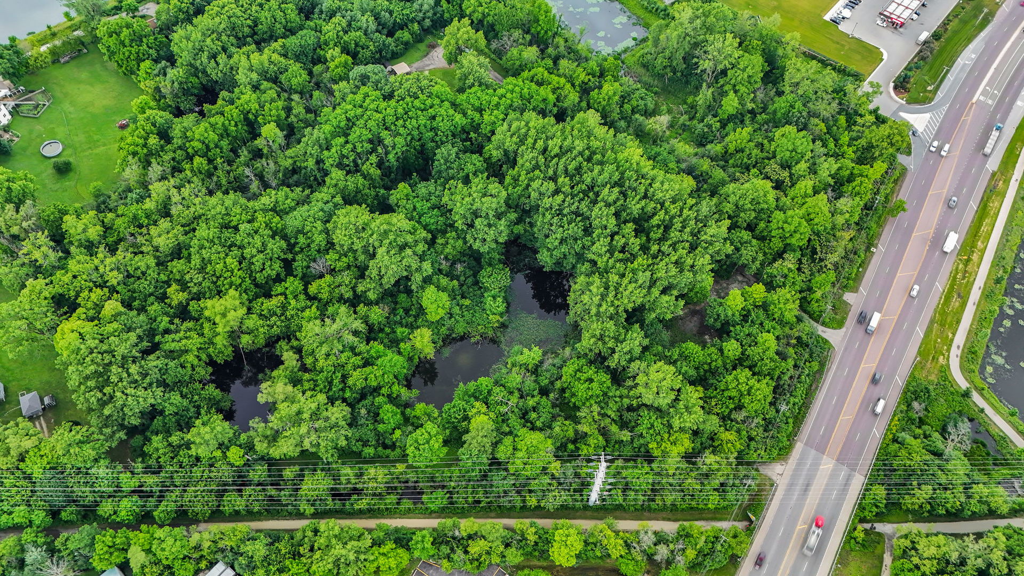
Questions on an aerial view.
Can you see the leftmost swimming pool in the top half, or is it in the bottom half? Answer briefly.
top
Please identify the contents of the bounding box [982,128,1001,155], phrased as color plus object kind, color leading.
white vehicle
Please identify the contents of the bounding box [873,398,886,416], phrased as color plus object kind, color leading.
white vehicle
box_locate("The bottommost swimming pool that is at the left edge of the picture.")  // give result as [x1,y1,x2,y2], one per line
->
[40,139,65,159]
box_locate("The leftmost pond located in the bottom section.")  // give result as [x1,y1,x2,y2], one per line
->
[206,339,288,440]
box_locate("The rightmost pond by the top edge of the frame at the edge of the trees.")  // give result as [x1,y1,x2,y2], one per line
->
[545,0,650,54]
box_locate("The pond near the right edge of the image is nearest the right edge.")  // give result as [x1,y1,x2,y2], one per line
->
[980,244,1024,418]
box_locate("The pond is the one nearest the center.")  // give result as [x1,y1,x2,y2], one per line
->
[404,240,581,410]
